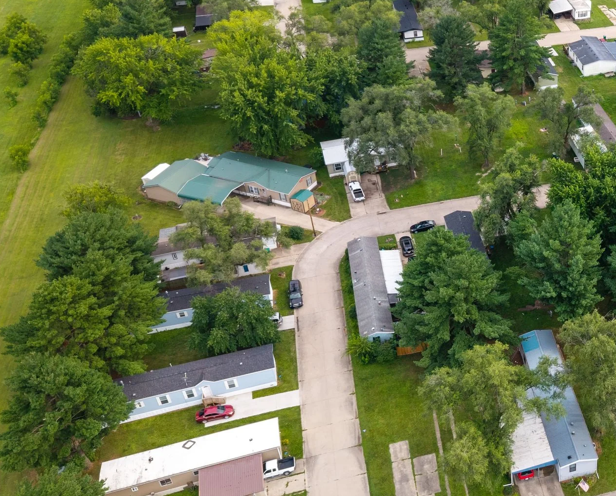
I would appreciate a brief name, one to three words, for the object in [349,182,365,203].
vehicle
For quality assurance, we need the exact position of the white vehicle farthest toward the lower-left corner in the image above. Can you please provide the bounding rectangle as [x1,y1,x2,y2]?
[265,453,303,482]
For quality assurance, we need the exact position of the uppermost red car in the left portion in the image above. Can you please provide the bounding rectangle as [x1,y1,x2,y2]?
[196,403,236,426]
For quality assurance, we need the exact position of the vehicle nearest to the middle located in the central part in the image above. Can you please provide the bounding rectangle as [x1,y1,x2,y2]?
[289,281,303,309]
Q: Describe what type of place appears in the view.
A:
residential area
